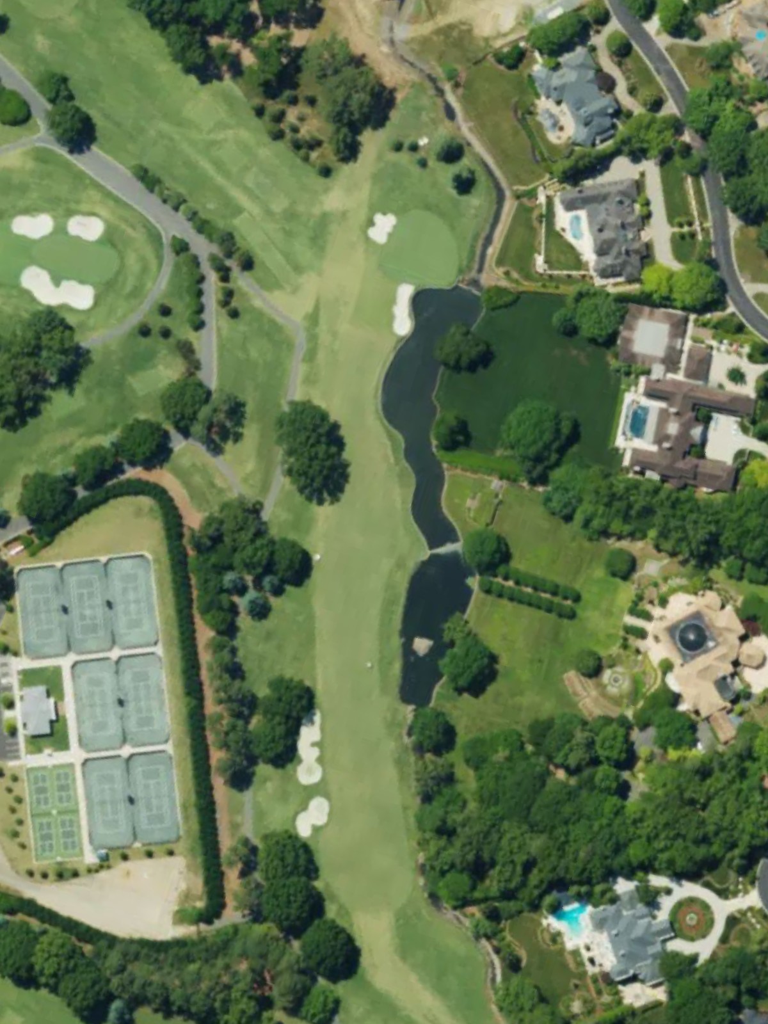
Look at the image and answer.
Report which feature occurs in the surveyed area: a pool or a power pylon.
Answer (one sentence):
The one in the frame is a pool.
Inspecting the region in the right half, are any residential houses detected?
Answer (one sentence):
Yes, a residential house is visible in the right half.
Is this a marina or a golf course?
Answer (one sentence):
The area seen from above is a golf course.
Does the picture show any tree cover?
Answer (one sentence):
Yes, tree cover can be seen from above here.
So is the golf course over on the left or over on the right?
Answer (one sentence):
It is on the left.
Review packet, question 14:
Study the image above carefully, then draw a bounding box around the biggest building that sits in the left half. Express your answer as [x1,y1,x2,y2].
[20,685,56,736]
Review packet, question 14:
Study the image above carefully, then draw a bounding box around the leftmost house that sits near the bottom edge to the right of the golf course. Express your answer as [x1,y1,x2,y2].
[589,889,679,990]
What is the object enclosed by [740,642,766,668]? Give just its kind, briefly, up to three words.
gazebo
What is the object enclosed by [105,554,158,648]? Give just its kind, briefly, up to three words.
tennis court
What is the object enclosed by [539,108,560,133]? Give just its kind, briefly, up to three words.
swimming pool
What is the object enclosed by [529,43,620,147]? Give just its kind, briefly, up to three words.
house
